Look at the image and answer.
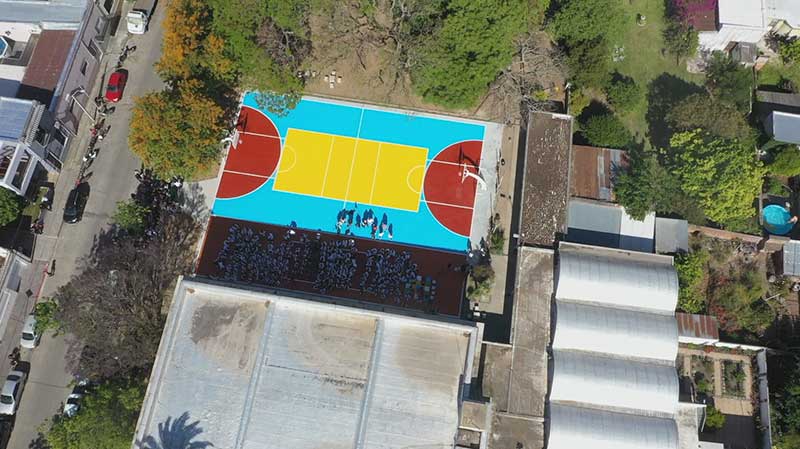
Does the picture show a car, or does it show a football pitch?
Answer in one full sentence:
There is a car in the scene.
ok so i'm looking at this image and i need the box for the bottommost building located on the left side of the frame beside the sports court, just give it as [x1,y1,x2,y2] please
[134,276,477,449]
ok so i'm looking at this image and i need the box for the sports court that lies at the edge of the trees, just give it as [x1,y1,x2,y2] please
[196,94,484,313]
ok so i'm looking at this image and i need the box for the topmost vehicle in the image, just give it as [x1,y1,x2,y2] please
[129,0,155,32]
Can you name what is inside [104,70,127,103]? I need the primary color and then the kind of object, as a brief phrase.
red car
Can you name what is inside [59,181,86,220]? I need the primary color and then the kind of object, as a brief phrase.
black car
